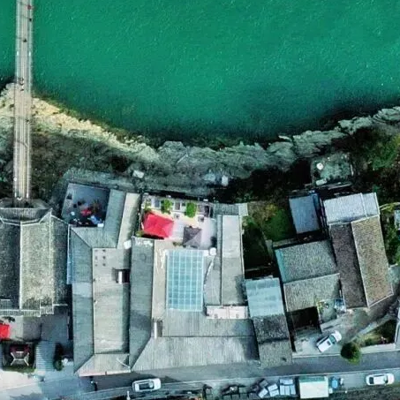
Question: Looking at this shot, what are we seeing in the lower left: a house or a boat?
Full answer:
It is a house that can be seen in the lower left.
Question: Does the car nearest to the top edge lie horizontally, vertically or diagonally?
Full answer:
From this overhead view, the car nearest to the top edge appears to run diagonally.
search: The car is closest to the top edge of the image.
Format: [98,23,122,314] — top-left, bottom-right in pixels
[316,331,343,354]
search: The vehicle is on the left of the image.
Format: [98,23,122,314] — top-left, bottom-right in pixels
[133,378,161,393]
